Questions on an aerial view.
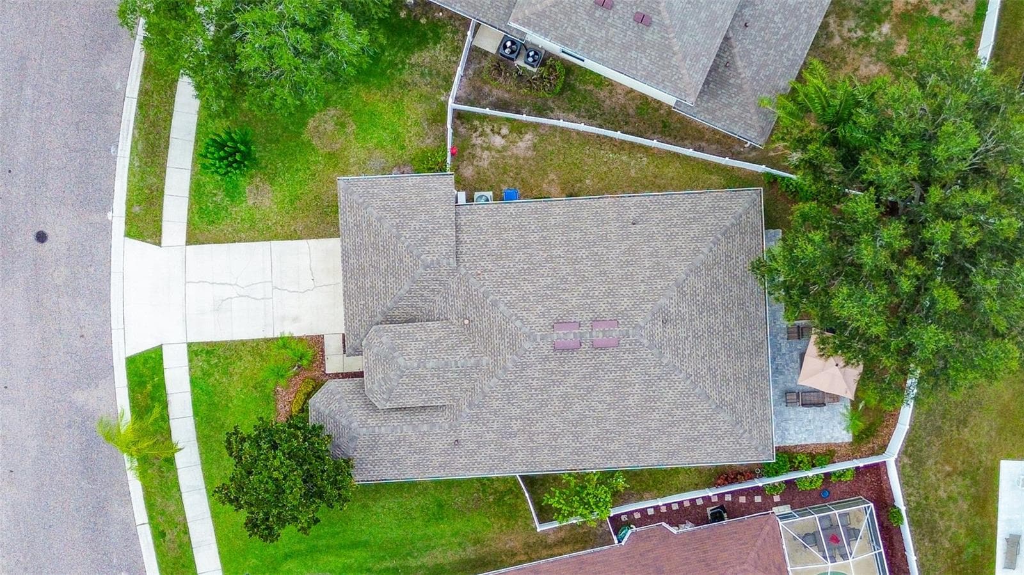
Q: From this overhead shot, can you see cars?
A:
No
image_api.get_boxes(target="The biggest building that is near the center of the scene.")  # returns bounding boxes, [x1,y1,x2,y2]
[307,173,775,483]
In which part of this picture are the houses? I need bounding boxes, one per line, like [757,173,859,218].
[484,510,791,575]
[307,173,775,483]
[428,0,827,153]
